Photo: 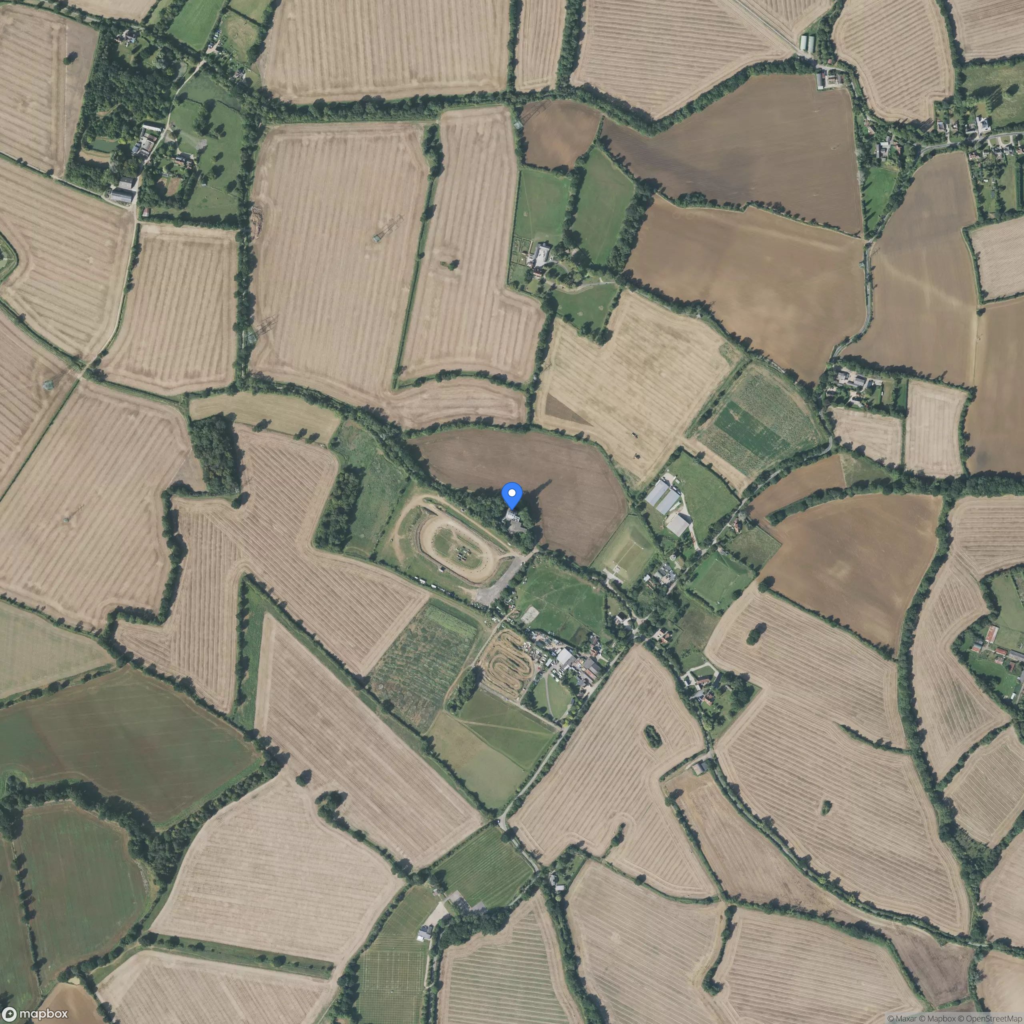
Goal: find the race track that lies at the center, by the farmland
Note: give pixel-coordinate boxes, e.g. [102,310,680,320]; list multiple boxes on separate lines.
[420,515,501,583]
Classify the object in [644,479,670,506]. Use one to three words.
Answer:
barn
